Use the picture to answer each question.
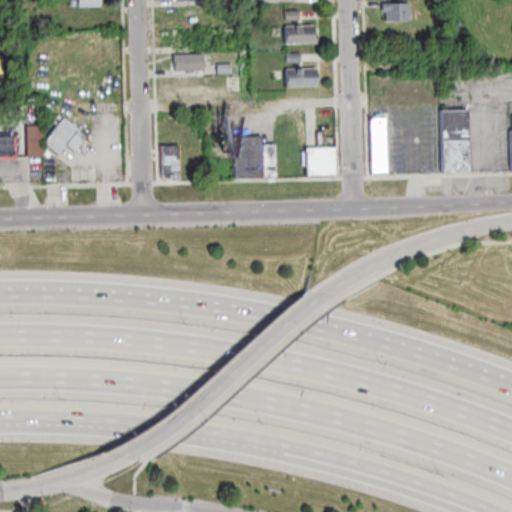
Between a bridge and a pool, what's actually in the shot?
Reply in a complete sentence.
Visible in the photo is a bridge.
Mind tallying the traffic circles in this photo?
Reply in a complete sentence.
There are no traffic circles in the image.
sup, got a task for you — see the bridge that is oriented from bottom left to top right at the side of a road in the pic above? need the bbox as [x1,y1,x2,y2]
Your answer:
[112,293,344,464]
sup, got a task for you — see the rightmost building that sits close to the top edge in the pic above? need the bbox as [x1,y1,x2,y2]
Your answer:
[382,2,410,21]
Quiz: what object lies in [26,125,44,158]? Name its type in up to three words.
building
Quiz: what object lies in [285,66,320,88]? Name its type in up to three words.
house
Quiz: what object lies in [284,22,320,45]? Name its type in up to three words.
house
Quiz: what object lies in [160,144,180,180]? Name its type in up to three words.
building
